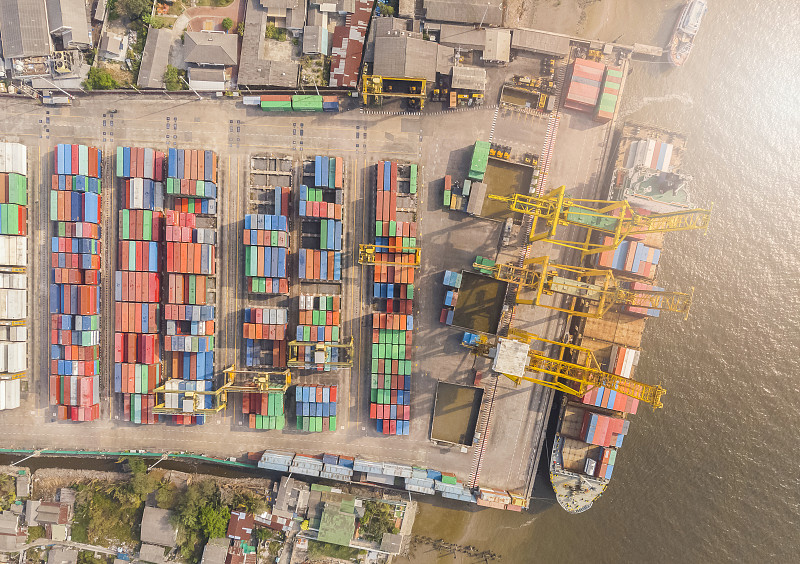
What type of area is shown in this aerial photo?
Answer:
port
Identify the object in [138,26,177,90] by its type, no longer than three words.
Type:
shed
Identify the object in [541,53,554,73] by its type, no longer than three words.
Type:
vehicle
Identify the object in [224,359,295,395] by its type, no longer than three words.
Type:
container crane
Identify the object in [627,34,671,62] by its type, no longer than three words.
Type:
pier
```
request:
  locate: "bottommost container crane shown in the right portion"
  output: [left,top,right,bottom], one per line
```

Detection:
[473,327,673,412]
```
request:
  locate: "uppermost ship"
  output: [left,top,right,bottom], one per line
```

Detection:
[667,0,712,67]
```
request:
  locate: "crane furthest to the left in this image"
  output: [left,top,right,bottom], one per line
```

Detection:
[152,379,227,416]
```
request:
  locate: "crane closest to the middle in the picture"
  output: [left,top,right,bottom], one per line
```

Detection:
[357,241,423,273]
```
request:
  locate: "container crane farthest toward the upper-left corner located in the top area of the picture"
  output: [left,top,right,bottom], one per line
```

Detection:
[362,75,427,116]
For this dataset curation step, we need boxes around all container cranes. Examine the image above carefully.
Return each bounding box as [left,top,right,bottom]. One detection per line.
[224,359,295,395]
[473,327,673,412]
[362,75,427,116]
[473,255,695,329]
[288,336,355,369]
[357,241,423,273]
[152,379,227,416]
[491,177,714,255]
